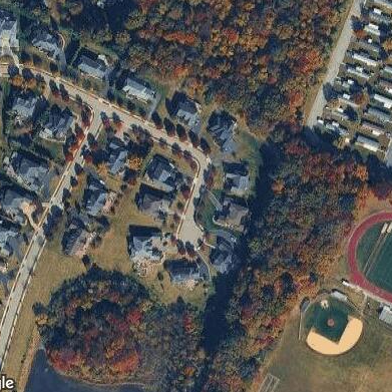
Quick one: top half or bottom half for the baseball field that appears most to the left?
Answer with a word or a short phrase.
bottom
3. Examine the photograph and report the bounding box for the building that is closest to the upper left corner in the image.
[0,18,20,44]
